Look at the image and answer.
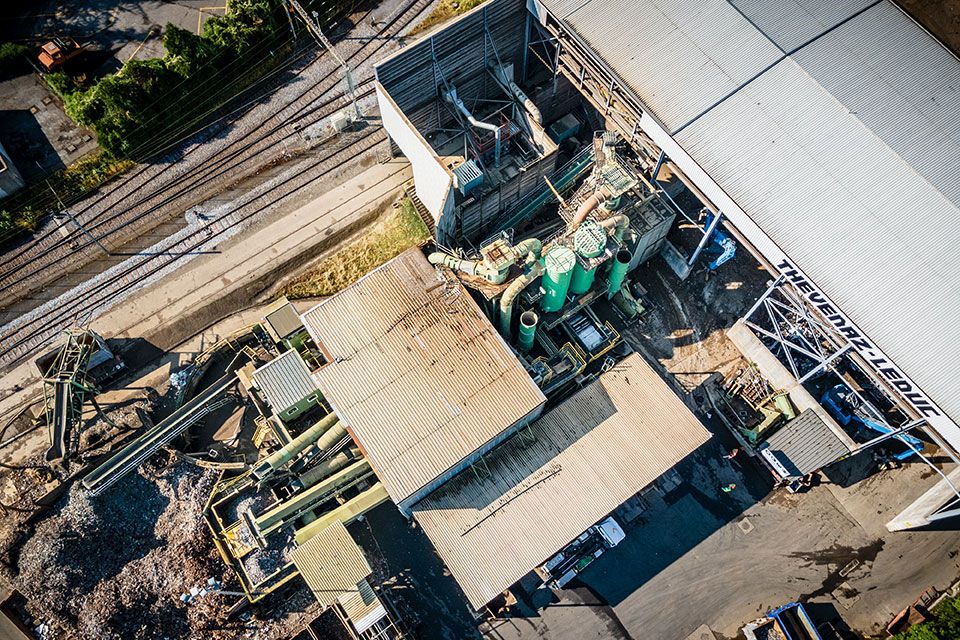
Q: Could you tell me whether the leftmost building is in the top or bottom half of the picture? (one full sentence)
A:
Seen from above, the leftmost building lies in the top half of the view.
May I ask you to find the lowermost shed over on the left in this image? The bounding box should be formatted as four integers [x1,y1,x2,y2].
[337,577,392,634]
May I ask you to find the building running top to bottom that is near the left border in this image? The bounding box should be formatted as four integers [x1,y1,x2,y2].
[0,125,44,231]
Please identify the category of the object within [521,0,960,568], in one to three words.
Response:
building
